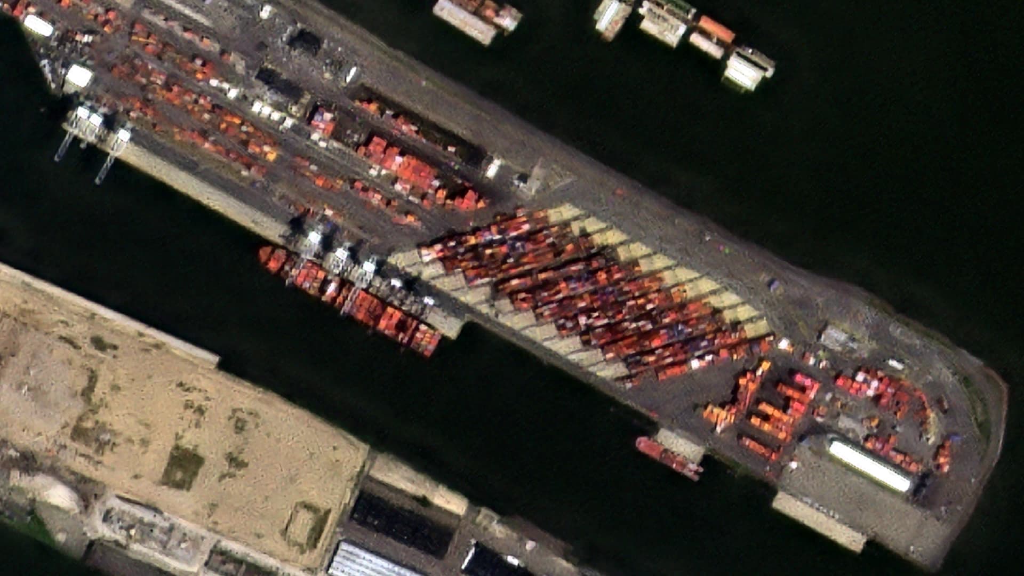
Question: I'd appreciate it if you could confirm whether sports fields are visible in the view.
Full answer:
No, the frame has no sports field in it.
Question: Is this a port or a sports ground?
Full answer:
The picture captures a port.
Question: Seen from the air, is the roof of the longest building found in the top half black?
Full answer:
Yes, the roof of the longest building found in the top half is indeed black.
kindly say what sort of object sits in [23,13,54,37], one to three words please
building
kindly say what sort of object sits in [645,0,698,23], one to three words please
ship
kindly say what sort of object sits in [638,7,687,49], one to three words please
vessel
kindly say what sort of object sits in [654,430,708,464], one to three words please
pier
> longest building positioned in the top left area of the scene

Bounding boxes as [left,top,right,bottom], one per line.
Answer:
[255,63,303,99]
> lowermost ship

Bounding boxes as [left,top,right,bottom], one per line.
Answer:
[635,440,705,482]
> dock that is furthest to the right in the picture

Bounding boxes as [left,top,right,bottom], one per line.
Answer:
[772,489,868,553]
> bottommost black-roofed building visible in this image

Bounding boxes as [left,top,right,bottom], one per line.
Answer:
[466,546,529,576]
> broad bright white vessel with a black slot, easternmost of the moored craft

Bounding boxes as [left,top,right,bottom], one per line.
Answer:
[722,45,773,93]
